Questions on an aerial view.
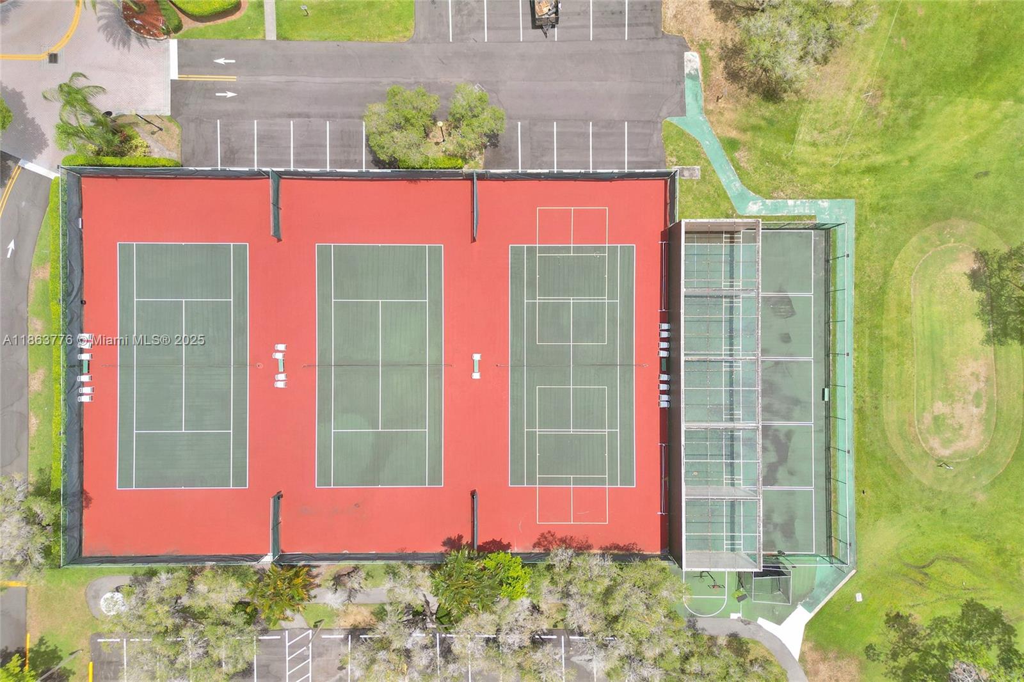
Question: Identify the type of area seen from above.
sports ground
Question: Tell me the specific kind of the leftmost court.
tennis court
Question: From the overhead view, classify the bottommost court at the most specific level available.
basketball court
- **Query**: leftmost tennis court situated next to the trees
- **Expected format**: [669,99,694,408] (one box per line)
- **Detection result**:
[85,179,279,554]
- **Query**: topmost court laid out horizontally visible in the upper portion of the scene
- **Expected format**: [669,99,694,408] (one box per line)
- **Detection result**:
[667,228,827,294]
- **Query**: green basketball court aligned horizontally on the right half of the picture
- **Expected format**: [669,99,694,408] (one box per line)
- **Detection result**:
[668,555,827,625]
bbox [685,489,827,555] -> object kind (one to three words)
sports court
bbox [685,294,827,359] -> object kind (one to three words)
sports court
